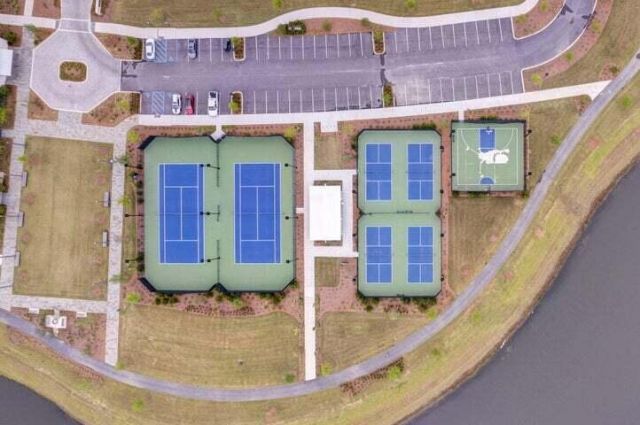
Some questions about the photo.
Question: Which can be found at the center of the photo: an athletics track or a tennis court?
tennis court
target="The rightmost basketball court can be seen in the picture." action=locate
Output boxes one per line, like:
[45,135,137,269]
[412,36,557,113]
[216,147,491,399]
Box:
[452,122,524,190]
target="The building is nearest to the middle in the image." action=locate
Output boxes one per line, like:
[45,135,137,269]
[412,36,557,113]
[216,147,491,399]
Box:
[309,184,342,243]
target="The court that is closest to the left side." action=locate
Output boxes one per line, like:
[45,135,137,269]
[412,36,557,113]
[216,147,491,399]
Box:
[144,136,218,291]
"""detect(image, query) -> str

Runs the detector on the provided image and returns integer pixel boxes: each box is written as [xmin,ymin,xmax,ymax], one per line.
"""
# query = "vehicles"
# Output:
[184,93,196,114]
[224,39,233,52]
[188,38,199,58]
[145,38,156,59]
[171,93,183,114]
[209,90,221,116]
